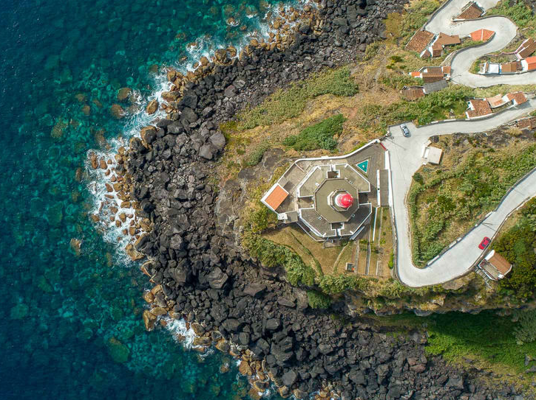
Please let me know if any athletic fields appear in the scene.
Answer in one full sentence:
No, there is no athletic field in the image.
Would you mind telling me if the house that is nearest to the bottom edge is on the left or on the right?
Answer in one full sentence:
You can find the house that is nearest to the bottom edge on the right side of the picture.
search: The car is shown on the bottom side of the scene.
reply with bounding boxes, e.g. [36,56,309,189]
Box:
[478,237,491,250]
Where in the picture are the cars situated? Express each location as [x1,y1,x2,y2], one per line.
[400,122,410,137]
[478,237,491,250]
